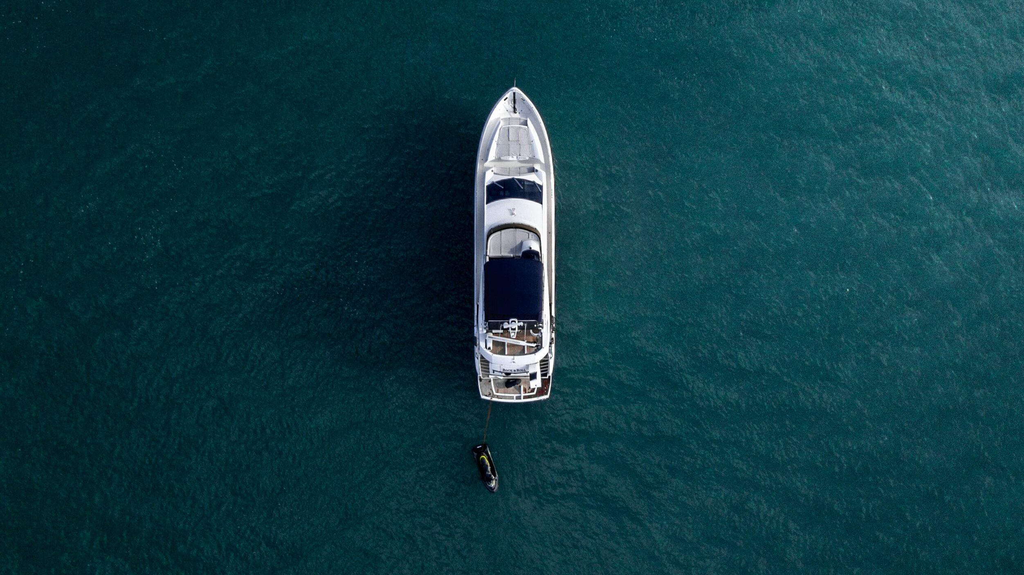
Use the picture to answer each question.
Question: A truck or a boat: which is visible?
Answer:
boat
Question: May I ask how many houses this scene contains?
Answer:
none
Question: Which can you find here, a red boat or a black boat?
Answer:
black boat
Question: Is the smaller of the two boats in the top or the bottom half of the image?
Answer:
bottom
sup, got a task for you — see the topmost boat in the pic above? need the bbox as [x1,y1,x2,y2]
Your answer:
[474,82,556,402]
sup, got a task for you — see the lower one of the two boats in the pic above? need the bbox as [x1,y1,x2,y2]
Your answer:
[473,445,498,493]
